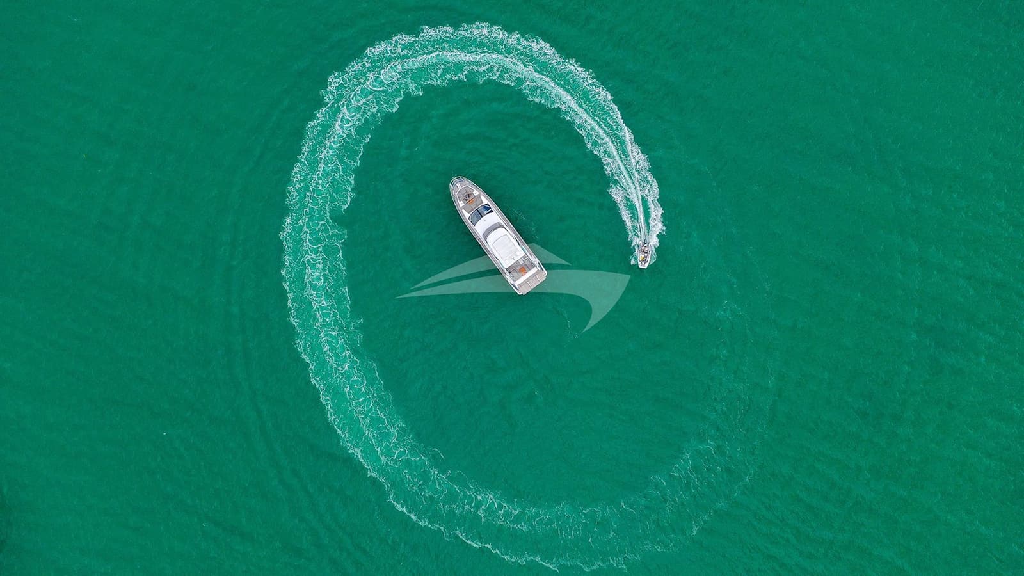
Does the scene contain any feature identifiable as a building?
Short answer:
No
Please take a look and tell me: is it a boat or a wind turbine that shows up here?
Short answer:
boat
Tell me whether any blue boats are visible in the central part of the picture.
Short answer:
No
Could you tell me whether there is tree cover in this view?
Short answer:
No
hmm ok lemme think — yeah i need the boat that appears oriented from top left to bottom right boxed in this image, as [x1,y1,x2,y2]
[450,177,546,295]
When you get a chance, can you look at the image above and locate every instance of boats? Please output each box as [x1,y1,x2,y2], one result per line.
[638,238,652,268]
[450,177,546,295]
